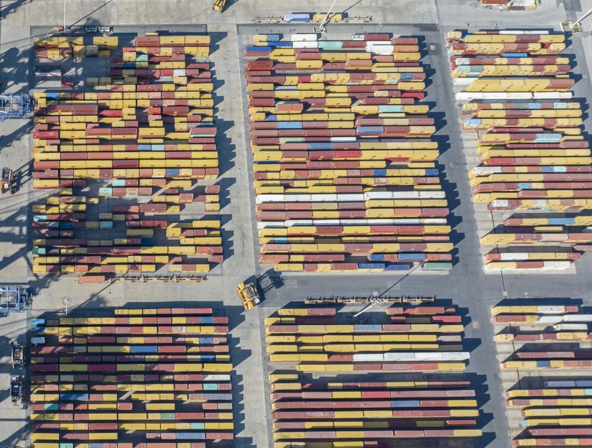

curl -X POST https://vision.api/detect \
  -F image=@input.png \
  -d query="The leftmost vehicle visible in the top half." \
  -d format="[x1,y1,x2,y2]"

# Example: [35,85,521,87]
[0,164,15,192]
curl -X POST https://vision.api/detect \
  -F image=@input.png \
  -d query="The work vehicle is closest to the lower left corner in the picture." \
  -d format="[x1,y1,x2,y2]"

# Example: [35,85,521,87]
[11,376,24,407]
